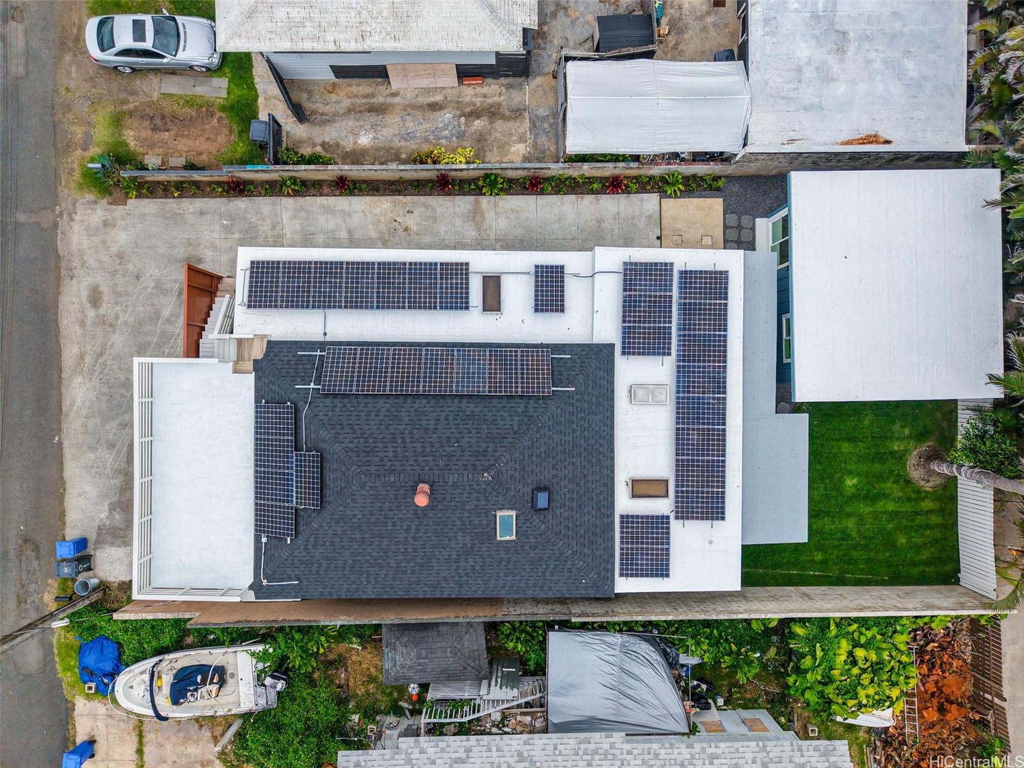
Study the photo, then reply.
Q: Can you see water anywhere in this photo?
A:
No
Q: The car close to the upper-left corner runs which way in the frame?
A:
from left to right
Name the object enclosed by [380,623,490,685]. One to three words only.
shed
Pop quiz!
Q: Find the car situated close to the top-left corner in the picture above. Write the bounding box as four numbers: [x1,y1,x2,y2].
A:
[86,1,226,72]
